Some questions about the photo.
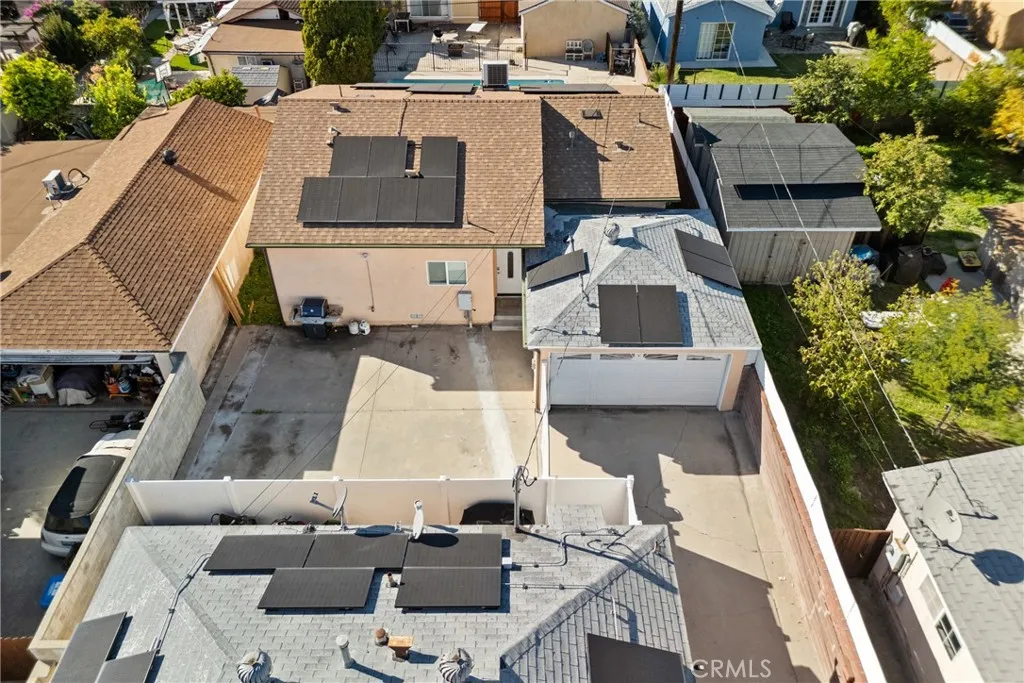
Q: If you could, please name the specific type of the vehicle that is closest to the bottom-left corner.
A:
automobile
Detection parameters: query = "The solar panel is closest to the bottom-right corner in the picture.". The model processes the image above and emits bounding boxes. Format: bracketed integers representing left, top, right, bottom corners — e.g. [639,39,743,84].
[588,639,688,683]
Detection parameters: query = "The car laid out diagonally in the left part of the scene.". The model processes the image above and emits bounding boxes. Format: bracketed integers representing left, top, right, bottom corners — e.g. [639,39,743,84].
[36,425,135,555]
